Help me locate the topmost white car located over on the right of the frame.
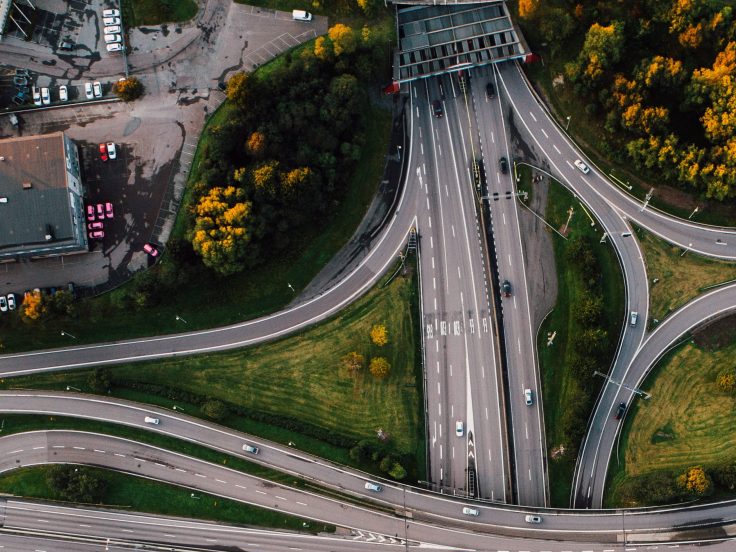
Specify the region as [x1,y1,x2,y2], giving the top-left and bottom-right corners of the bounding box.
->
[574,159,588,174]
